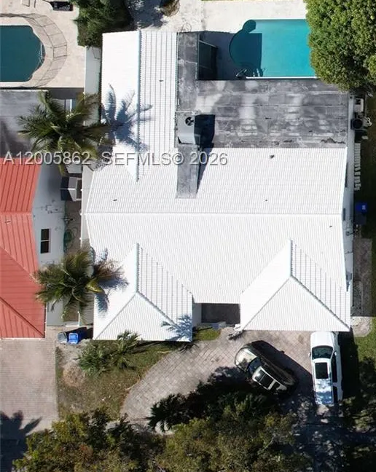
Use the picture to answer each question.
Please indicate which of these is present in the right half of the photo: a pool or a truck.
pool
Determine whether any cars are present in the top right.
No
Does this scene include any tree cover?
Yes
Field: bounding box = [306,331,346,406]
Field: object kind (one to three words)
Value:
car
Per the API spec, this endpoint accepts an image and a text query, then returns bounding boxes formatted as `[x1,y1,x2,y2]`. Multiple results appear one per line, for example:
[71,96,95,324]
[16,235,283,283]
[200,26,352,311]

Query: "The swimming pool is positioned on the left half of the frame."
[0,23,50,84]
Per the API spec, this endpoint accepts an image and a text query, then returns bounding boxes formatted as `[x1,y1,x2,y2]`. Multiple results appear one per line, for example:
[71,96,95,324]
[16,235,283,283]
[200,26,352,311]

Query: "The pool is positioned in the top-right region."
[228,17,330,78]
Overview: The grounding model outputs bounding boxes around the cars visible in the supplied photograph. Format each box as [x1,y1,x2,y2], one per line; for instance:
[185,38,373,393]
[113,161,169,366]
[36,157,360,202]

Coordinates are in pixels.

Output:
[236,348,308,408]
[306,331,346,406]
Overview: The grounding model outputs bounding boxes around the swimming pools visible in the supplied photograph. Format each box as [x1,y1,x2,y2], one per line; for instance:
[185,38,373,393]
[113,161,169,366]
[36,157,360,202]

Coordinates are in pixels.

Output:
[228,17,330,78]
[0,23,50,84]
